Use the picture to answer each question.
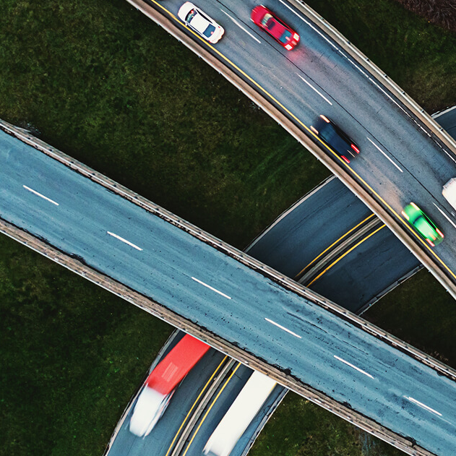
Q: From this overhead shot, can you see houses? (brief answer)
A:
No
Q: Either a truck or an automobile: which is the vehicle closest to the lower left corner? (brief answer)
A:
truck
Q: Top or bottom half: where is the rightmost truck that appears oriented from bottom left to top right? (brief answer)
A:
bottom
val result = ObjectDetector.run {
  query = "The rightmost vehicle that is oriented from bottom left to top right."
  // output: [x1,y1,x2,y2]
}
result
[202,373,276,456]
